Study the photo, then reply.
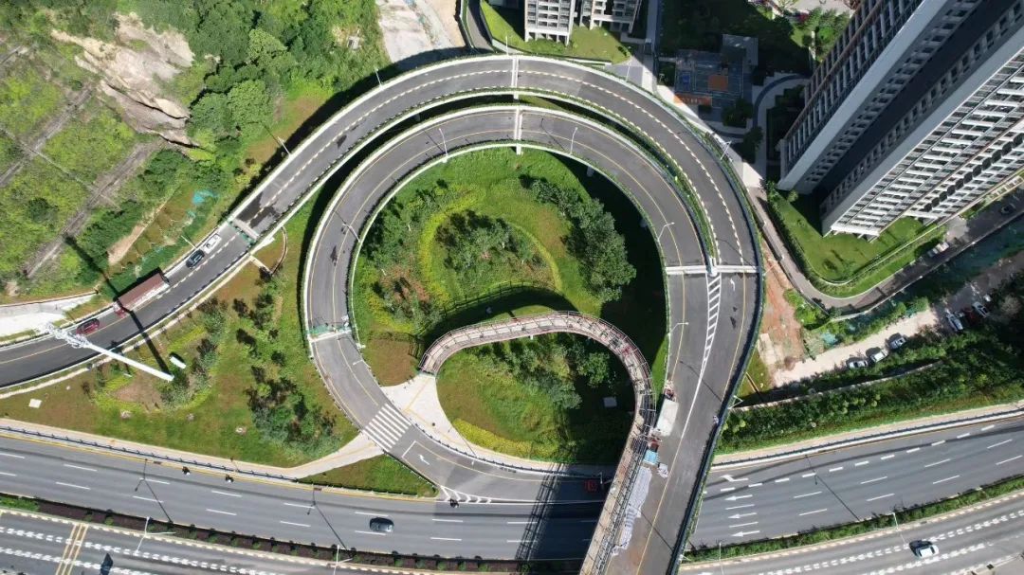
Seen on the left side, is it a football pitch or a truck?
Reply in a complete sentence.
The feature located on the left side is a truck.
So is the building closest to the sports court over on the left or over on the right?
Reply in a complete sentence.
The building closest to the sports court is on the right side of the image.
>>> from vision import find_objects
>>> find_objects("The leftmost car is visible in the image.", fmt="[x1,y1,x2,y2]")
[75,317,98,332]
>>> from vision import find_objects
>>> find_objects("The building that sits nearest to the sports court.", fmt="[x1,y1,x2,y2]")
[725,26,762,60]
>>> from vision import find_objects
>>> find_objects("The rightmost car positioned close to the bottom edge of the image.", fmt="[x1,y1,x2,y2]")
[914,542,939,556]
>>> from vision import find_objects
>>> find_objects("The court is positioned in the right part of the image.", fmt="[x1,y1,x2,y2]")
[673,55,747,111]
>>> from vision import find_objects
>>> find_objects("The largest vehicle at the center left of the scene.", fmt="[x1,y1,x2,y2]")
[108,273,166,318]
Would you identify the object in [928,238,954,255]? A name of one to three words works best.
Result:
vehicle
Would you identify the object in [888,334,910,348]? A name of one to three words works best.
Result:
car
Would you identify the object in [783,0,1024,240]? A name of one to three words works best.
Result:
building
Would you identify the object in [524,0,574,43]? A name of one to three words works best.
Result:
building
